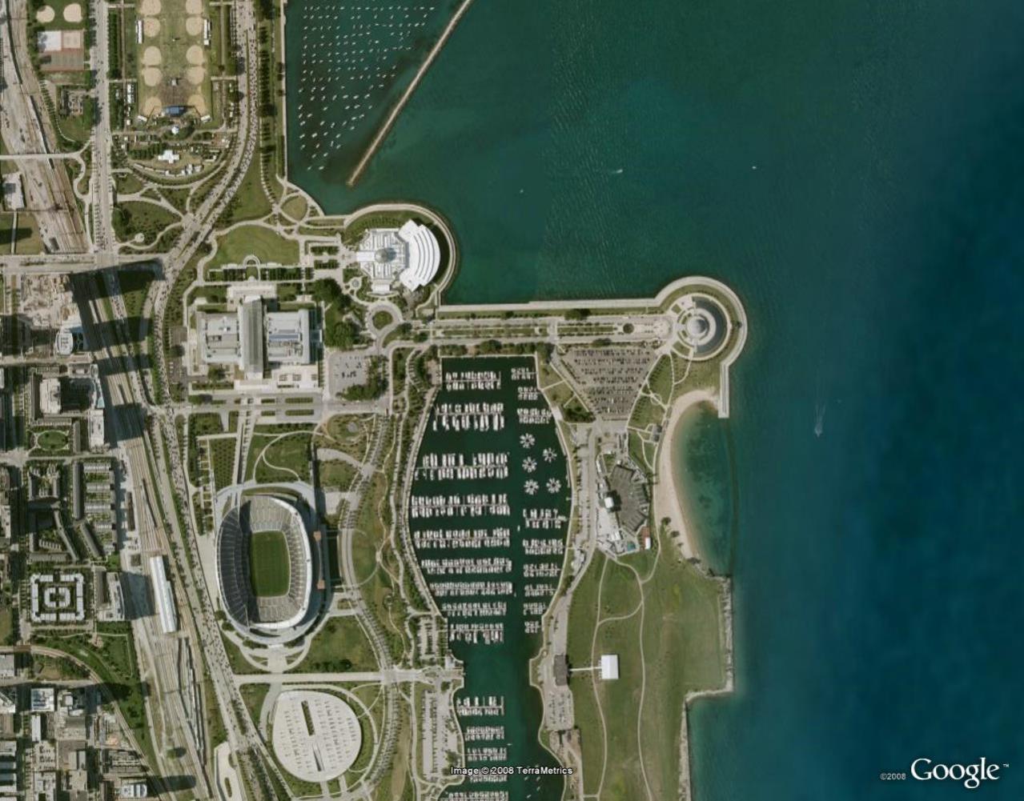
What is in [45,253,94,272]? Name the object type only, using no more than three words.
bridge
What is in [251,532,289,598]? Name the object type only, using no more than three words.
sports field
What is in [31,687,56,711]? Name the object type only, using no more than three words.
building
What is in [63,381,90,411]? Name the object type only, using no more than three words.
building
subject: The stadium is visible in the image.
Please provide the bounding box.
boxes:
[215,493,311,631]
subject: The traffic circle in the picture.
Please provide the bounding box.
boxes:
[367,300,403,349]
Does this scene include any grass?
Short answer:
Yes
